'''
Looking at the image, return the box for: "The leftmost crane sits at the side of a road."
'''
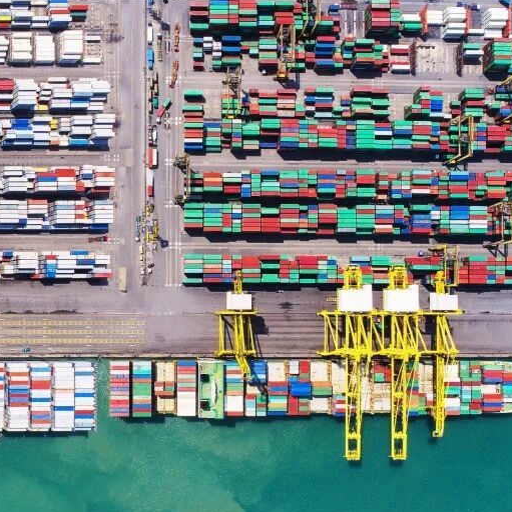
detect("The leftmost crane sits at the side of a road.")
[172,154,191,204]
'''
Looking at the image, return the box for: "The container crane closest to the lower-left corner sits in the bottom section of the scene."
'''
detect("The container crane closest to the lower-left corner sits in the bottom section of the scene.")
[205,265,260,395]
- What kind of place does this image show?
port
